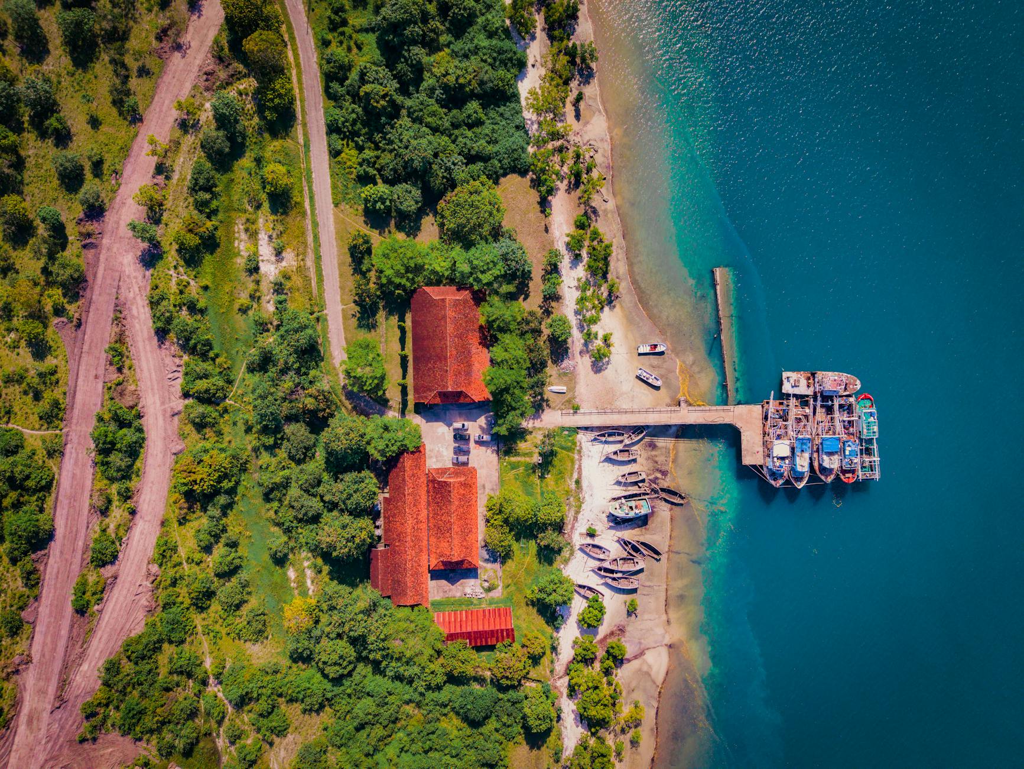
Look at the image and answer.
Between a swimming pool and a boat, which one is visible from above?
boat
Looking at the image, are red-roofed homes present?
Yes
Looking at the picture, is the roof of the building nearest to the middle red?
Yes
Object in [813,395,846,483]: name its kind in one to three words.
boat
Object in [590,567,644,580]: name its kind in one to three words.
boat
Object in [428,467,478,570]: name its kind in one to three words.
house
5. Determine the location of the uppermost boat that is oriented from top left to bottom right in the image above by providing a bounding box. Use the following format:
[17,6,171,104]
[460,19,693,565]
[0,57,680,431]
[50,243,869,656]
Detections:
[636,368,661,385]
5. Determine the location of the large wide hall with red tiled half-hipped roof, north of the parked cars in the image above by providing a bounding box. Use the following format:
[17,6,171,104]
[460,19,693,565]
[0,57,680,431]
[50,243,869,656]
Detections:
[411,284,492,405]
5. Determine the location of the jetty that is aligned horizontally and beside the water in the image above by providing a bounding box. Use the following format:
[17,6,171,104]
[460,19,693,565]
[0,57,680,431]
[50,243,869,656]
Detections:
[514,405,764,465]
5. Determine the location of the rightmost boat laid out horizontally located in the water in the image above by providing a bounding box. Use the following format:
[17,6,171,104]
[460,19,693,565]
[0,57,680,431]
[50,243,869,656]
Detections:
[780,371,862,395]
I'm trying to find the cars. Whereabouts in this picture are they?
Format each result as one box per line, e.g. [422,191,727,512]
[453,433,471,441]
[452,422,469,430]
[473,434,491,441]
[452,455,469,462]
[453,444,471,452]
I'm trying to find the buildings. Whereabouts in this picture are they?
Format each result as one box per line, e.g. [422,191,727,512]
[436,605,516,643]
[411,284,492,405]
[384,438,429,613]
[428,467,478,570]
